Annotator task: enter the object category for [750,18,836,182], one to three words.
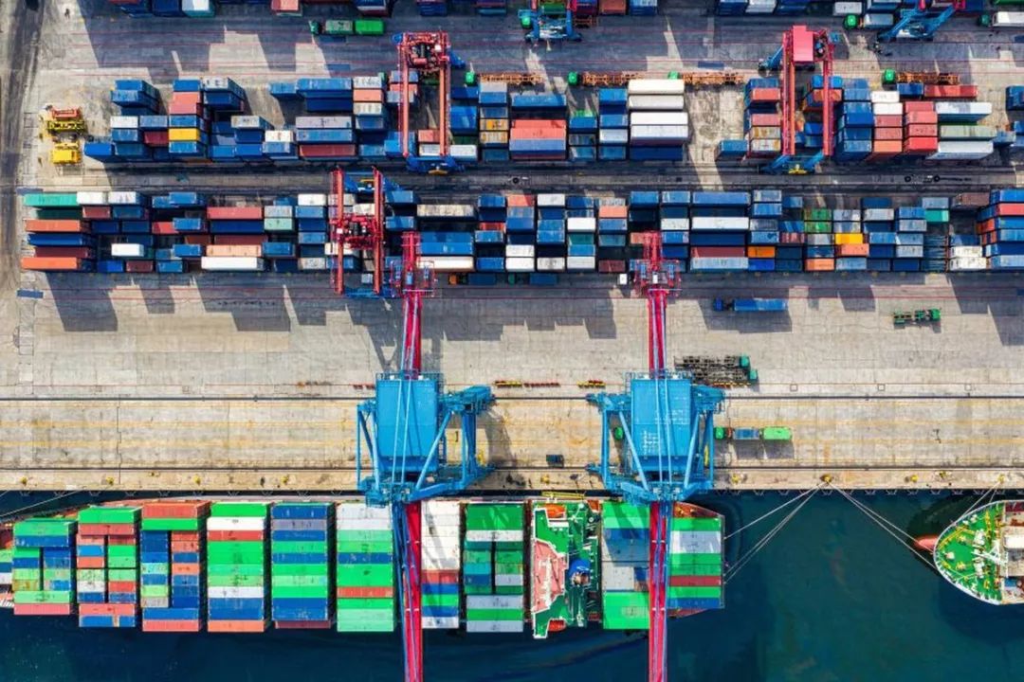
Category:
container crane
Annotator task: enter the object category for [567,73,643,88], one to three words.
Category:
vehicle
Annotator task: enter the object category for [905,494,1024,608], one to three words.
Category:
ship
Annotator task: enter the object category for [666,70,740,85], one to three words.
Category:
vehicle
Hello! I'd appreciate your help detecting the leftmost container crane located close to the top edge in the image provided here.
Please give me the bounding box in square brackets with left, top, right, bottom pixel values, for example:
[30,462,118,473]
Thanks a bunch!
[395,30,473,182]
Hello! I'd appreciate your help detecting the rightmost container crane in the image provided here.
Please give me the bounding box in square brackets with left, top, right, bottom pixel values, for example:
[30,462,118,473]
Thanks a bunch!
[871,0,968,49]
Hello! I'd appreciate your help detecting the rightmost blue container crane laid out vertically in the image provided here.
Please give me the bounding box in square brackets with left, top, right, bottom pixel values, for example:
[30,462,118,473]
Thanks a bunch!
[582,232,727,682]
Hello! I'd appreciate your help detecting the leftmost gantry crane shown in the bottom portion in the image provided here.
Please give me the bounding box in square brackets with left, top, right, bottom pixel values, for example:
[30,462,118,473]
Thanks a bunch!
[349,233,507,682]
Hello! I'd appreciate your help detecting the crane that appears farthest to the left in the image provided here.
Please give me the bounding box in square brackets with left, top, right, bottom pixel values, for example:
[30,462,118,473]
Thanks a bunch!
[329,166,413,299]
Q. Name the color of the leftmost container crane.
red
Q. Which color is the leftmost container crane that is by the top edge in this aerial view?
red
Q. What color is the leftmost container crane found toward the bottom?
blue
